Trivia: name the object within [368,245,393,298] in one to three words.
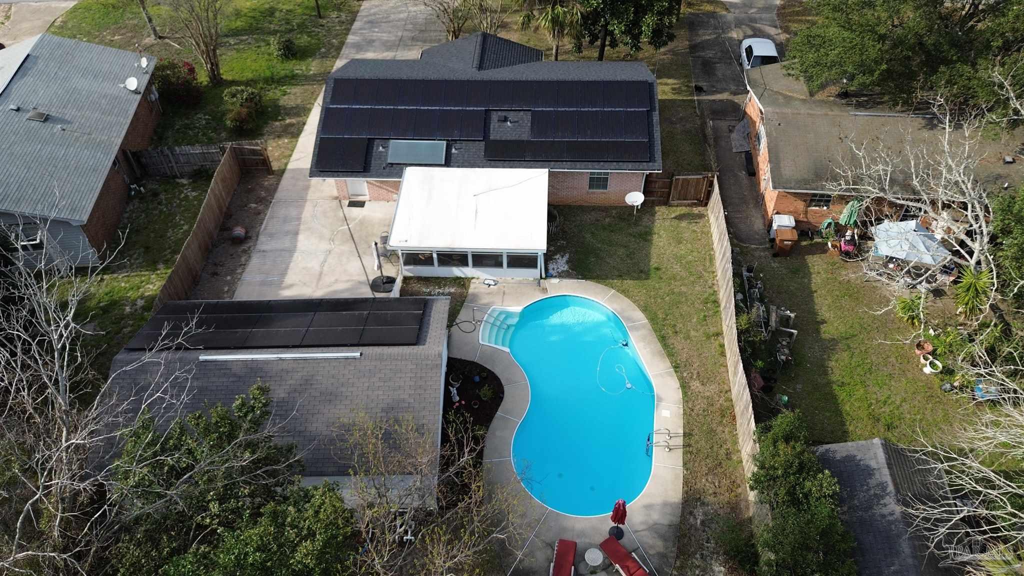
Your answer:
umbrella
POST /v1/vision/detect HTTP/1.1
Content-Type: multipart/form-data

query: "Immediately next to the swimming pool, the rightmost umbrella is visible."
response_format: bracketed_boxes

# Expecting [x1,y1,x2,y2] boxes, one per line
[608,496,629,541]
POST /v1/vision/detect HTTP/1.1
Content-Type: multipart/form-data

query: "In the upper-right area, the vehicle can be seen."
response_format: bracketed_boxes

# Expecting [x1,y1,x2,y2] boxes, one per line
[734,38,777,69]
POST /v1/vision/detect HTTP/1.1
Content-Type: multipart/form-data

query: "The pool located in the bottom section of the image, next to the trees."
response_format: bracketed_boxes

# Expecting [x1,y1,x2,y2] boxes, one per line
[476,294,670,517]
